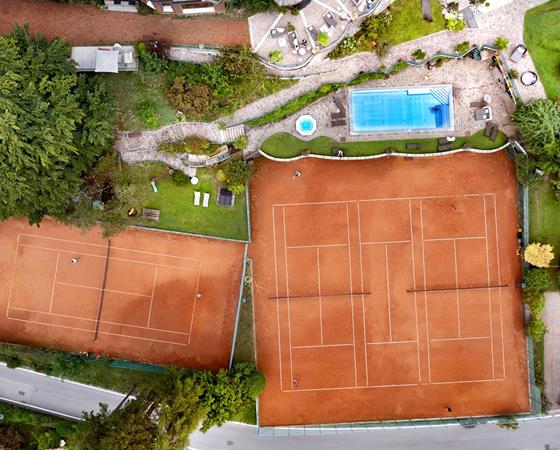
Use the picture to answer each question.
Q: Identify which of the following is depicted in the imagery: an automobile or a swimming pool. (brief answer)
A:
swimming pool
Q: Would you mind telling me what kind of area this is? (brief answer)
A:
sports ground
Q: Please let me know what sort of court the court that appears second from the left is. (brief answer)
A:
tennis court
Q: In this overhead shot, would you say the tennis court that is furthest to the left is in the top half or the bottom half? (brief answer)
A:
bottom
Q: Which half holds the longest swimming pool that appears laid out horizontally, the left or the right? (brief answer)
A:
right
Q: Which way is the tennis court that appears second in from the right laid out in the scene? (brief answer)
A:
from top to bottom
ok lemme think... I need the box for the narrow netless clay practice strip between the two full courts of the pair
[355,156,422,421]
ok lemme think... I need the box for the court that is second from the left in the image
[250,154,370,427]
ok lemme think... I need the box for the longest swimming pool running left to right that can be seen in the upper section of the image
[349,85,454,136]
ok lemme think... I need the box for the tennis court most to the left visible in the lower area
[0,218,248,369]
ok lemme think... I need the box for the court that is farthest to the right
[407,145,531,418]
